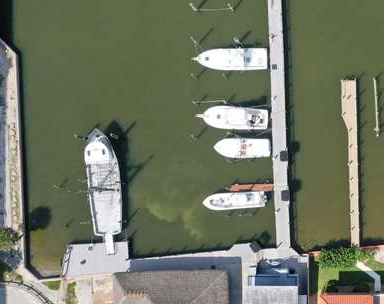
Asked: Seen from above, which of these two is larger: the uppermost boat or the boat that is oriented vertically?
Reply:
the boat that is oriented vertically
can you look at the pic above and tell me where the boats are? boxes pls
[194,104,269,130]
[202,191,270,209]
[190,41,268,70]
[212,138,273,158]
[78,127,127,234]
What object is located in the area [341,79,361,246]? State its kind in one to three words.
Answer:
pier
